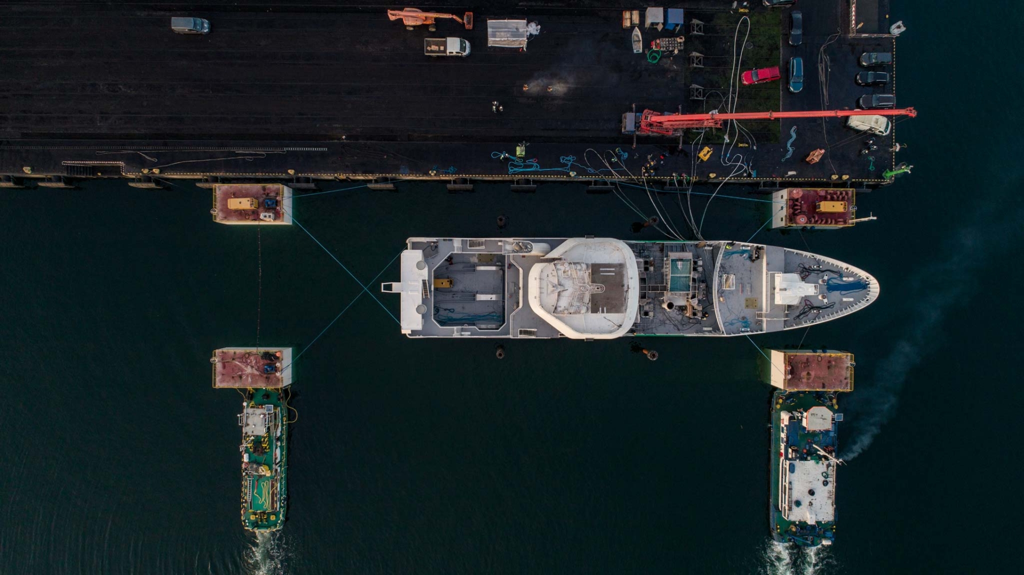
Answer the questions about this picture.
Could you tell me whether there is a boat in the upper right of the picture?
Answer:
Yes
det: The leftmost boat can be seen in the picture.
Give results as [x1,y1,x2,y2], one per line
[236,388,290,532]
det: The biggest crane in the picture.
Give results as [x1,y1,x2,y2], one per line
[622,103,919,153]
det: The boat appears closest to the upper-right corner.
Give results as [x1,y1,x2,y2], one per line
[891,18,909,34]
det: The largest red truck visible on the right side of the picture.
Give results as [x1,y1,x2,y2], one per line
[741,64,785,85]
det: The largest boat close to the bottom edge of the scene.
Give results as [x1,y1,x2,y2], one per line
[769,389,846,547]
